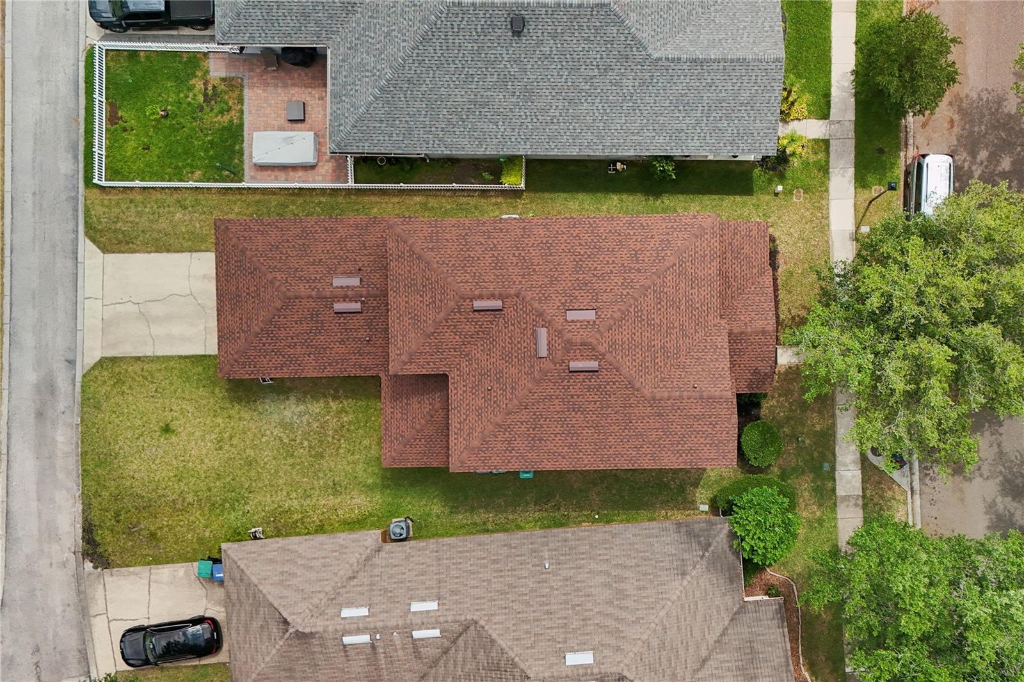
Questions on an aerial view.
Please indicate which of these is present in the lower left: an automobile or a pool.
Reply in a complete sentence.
The one visible in the lower left is an automobile.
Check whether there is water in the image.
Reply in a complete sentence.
No, there's no water in this view.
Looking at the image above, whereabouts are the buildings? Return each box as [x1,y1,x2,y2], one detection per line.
[215,215,778,472]
[222,506,800,682]
[215,0,785,166]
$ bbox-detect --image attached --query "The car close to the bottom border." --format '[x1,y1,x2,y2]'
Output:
[117,616,220,673]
